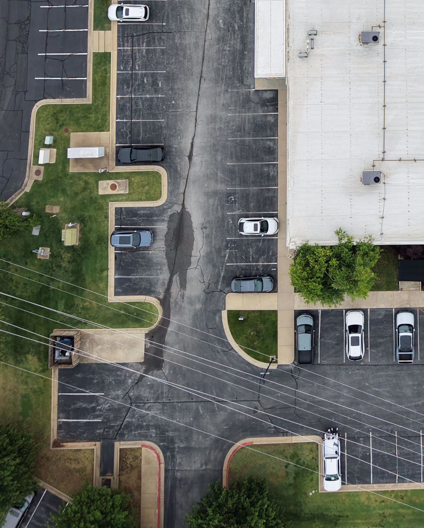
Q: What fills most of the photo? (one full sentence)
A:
The largest share of the image is taken up by paved ground.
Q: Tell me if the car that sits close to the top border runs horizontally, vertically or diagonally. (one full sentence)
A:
The car that sits close to the top border is oriented horizontally.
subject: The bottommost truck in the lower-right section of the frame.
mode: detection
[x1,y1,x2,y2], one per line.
[321,429,343,493]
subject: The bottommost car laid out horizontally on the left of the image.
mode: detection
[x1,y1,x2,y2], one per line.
[110,229,155,250]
